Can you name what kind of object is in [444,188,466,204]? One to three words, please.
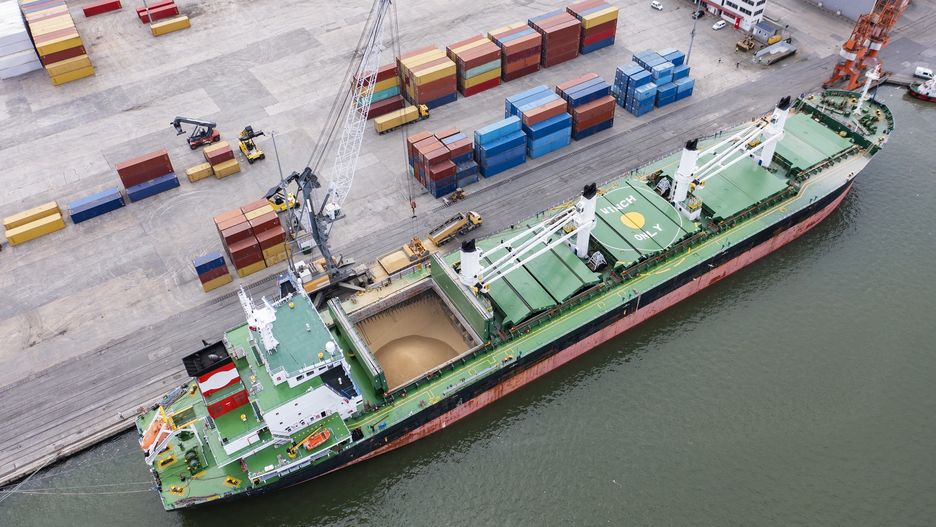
work vehicle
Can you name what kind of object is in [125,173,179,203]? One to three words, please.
shipping container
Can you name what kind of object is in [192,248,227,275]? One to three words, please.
shipping container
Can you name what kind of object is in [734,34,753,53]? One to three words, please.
work vehicle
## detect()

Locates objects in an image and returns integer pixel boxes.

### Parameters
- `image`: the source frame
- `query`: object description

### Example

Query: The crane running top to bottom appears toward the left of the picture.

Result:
[287,0,412,315]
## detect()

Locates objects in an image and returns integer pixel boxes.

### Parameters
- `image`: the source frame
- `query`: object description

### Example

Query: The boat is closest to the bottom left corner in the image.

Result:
[134,414,165,444]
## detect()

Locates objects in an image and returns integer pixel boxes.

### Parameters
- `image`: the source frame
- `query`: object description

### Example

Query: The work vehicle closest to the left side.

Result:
[170,122,223,149]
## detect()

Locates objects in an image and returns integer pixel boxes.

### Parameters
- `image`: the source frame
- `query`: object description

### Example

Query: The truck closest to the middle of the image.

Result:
[428,212,480,246]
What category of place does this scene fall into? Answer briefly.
port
